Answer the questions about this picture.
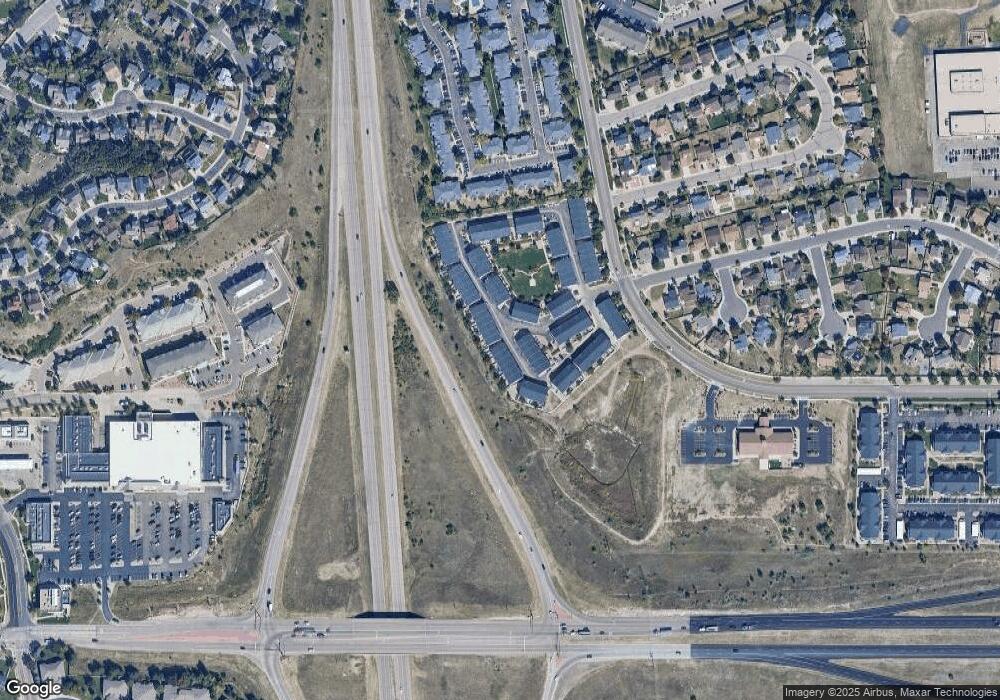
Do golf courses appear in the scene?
No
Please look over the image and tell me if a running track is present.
No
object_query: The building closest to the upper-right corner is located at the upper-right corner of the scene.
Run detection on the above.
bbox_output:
[937,52,1000,140]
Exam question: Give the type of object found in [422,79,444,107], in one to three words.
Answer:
building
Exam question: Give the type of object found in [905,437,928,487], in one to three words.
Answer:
building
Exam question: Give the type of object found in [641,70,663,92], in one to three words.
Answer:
house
